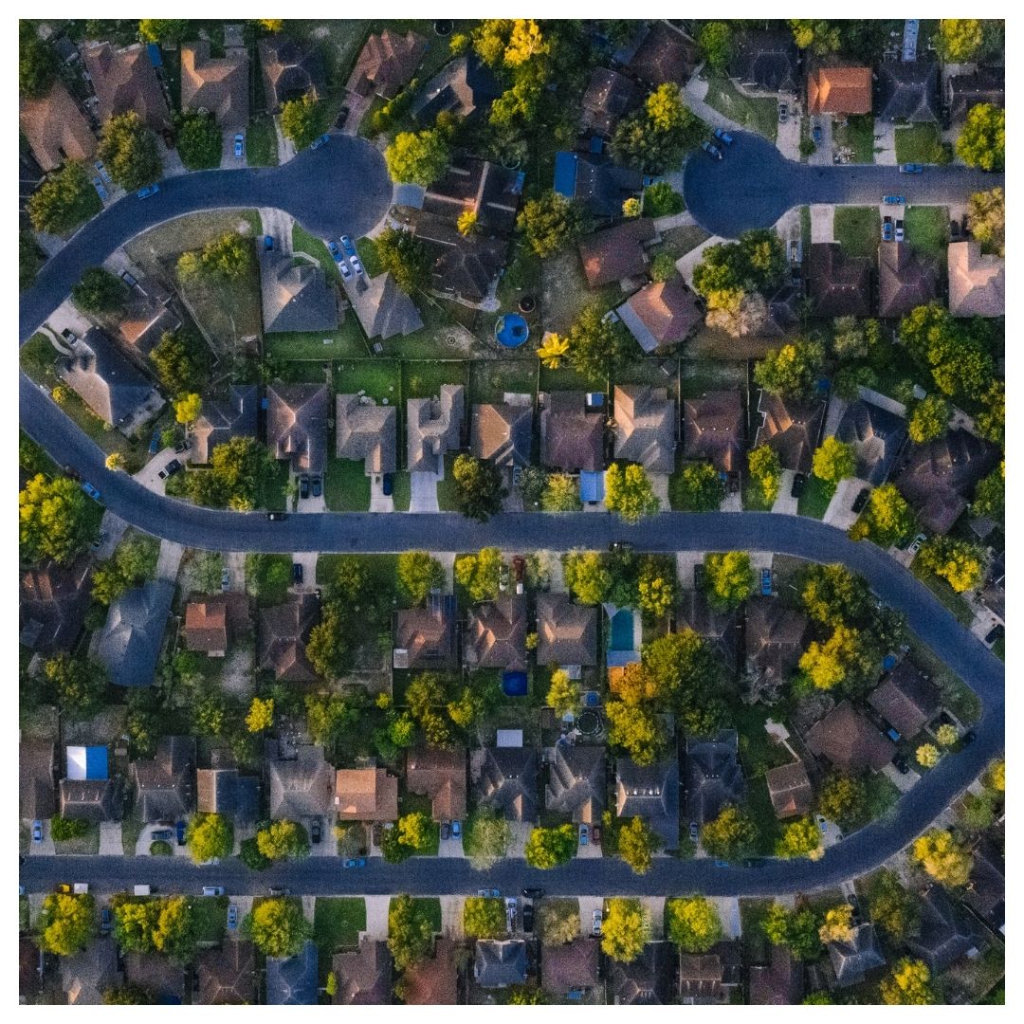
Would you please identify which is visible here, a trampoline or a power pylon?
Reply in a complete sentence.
I can see a trampoline in this picture.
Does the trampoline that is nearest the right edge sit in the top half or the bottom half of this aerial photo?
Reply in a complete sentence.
You can find the trampoline that is nearest the right edge in the bottom half.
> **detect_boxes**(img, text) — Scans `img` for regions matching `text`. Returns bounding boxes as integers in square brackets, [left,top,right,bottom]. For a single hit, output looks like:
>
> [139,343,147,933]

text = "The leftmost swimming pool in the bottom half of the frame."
[503,671,527,696]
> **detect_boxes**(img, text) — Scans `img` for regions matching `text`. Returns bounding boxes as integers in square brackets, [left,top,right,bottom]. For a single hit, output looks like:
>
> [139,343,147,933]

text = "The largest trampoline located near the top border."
[435,17,454,36]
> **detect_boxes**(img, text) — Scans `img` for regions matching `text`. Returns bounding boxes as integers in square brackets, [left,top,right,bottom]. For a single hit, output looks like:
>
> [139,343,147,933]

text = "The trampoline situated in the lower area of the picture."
[578,712,600,734]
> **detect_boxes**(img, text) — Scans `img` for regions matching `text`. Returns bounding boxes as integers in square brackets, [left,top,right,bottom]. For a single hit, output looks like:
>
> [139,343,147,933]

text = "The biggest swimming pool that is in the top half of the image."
[496,314,529,348]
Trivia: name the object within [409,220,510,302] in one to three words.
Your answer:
house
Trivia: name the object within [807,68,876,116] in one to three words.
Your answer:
house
